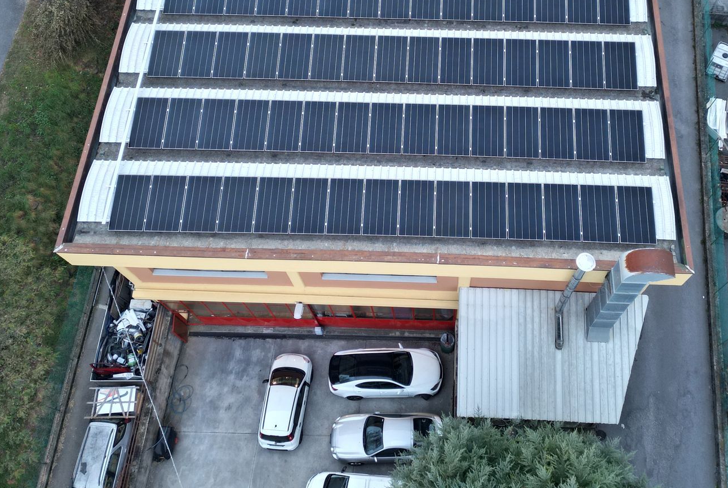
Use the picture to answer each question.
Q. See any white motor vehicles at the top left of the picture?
No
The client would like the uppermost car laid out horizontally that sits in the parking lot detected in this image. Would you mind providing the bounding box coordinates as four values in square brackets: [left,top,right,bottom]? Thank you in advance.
[328,345,444,402]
